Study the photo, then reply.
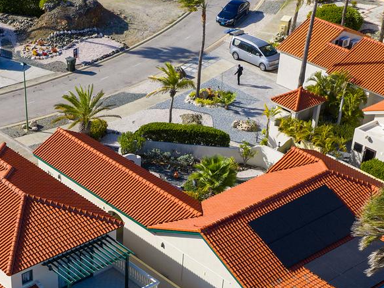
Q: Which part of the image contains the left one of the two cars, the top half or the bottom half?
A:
top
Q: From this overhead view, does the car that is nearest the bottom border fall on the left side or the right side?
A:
right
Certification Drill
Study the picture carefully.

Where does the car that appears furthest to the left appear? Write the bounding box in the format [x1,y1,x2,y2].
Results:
[218,0,251,23]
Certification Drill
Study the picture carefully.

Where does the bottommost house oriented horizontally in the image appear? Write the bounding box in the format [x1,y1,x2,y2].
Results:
[31,128,384,288]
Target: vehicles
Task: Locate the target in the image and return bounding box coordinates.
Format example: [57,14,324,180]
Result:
[225,28,282,71]
[218,0,251,23]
